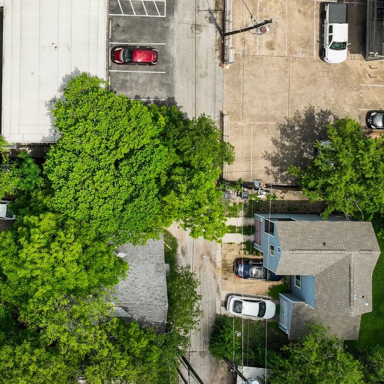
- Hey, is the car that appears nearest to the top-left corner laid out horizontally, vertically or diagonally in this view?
horizontally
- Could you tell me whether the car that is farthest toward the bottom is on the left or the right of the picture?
right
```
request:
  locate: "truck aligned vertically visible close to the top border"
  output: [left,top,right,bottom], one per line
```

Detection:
[321,2,350,64]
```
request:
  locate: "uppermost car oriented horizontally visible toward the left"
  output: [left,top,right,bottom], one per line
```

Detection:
[110,44,159,67]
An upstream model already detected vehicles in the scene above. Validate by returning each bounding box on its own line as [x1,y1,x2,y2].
[110,44,159,67]
[233,258,282,281]
[0,200,19,220]
[225,295,275,321]
[363,109,384,132]
[321,2,350,64]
